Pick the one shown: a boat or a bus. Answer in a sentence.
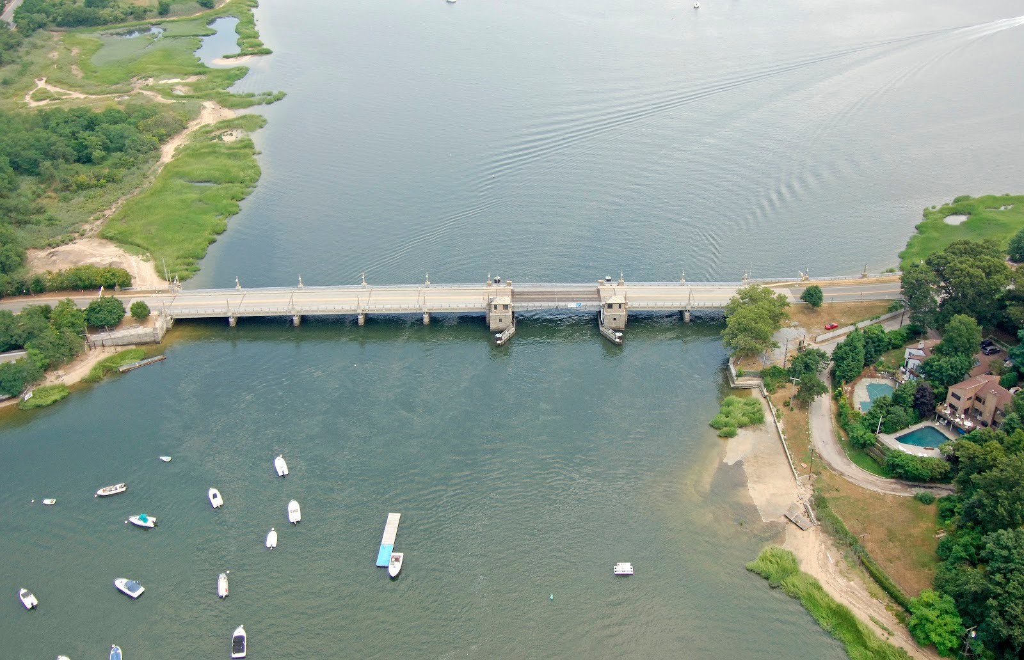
The image shows a boat.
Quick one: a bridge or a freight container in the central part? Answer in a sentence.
It is a bridge that can be seen in the central part.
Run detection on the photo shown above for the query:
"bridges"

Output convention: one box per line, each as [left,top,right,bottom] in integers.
[147,276,815,328]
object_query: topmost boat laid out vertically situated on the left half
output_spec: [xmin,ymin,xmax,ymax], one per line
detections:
[275,454,288,479]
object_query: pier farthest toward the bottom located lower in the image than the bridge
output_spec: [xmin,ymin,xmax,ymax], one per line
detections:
[378,513,401,568]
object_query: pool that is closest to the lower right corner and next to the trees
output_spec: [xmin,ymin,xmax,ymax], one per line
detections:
[898,428,947,448]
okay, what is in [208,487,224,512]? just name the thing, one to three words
boat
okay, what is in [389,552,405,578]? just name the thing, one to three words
boat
